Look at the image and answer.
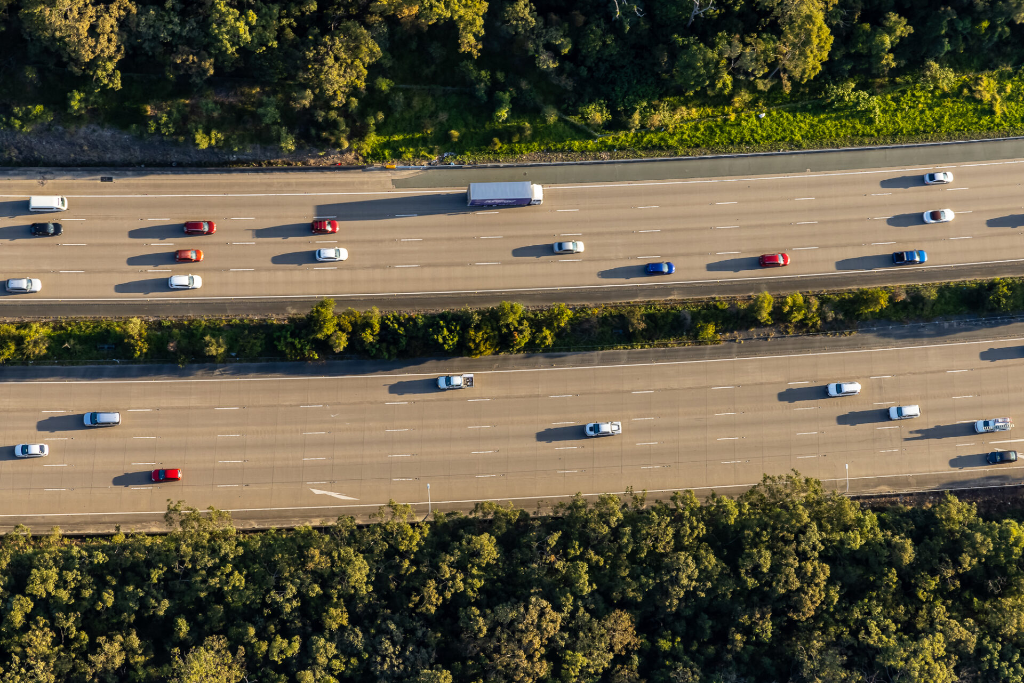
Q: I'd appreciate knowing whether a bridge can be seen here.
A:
No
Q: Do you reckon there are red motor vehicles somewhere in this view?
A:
Yes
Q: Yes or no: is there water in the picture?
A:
No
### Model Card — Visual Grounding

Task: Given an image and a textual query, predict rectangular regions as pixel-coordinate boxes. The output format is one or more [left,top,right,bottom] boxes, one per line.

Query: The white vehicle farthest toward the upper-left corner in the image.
[29,196,68,213]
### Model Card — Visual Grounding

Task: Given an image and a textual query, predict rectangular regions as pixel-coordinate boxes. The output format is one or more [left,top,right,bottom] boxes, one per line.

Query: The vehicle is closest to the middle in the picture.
[437,374,474,390]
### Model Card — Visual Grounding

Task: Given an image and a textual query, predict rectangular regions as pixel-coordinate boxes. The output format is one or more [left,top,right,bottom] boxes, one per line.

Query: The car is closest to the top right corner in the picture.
[923,171,954,186]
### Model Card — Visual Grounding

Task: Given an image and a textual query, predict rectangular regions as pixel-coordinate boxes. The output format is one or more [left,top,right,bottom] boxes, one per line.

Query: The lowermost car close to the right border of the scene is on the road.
[986,450,1018,465]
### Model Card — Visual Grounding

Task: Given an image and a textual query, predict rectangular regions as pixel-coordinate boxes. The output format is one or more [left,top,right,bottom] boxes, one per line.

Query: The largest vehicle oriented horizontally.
[467,182,541,207]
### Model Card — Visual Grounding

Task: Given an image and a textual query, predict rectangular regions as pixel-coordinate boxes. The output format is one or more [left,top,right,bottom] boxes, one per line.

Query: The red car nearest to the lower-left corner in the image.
[152,468,182,482]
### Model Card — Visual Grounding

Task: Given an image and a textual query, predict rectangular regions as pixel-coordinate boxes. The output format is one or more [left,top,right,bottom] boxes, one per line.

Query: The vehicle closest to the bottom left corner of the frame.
[15,443,49,458]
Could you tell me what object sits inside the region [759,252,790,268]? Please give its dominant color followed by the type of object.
red car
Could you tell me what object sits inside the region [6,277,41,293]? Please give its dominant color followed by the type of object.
white car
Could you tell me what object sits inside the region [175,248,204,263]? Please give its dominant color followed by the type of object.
red car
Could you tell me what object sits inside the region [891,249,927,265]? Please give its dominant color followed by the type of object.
blue vehicle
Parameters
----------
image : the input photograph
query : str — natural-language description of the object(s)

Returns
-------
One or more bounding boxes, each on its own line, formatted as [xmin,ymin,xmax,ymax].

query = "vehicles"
[467,182,541,207]
[29,196,68,213]
[84,411,122,427]
[644,261,675,276]
[553,240,584,255]
[316,247,348,262]
[311,219,339,234]
[759,252,790,268]
[15,443,49,458]
[169,274,202,289]
[6,277,41,293]
[437,374,474,390]
[974,417,1012,434]
[887,405,922,421]
[891,249,927,265]
[922,209,954,224]
[923,171,954,186]
[184,220,216,235]
[584,422,622,437]
[152,468,182,482]
[175,248,204,263]
[986,450,1018,465]
[31,222,63,237]
[825,382,861,397]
